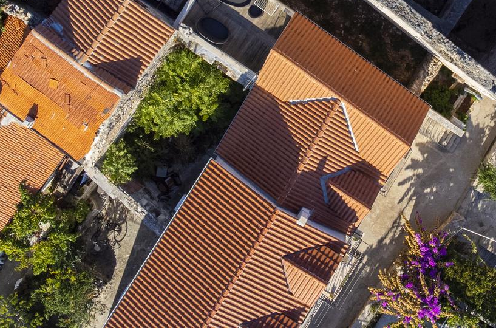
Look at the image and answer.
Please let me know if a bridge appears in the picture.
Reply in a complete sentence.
No, the scene contains no bridge.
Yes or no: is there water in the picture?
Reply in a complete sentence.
No, the picture contains no water.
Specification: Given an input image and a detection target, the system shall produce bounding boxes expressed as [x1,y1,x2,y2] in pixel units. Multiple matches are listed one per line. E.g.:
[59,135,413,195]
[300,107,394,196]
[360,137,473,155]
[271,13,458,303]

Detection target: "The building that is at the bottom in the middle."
[101,158,375,328]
